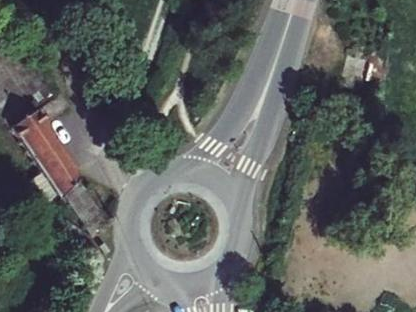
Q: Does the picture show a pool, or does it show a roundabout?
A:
roundabout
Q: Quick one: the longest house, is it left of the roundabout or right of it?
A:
on its left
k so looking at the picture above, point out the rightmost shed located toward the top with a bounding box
[366,56,386,80]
